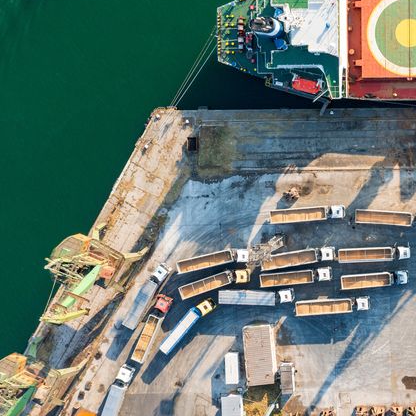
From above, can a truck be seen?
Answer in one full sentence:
Yes, there is a truck in the image.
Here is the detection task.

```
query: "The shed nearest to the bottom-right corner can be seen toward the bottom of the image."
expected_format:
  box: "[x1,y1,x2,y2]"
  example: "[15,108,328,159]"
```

[280,360,295,394]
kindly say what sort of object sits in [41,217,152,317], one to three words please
crane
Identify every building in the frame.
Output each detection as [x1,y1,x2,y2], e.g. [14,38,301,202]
[280,360,295,394]
[242,322,279,386]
